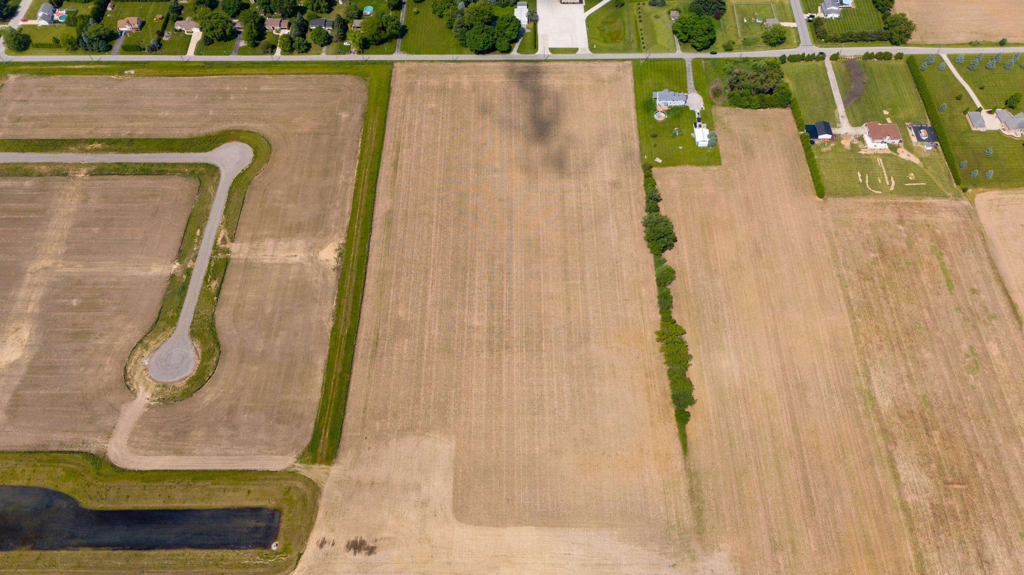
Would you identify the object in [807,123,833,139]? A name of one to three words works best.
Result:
building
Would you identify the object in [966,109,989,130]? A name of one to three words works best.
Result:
building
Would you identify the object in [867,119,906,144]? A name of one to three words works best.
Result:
house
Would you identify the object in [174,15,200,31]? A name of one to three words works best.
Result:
house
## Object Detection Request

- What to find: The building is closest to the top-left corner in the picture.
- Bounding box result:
[37,2,57,25]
